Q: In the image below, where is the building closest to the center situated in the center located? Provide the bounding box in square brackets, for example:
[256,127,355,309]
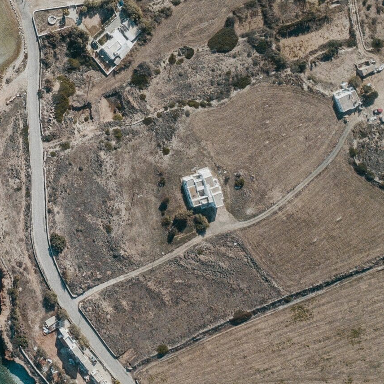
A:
[177,164,225,208]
